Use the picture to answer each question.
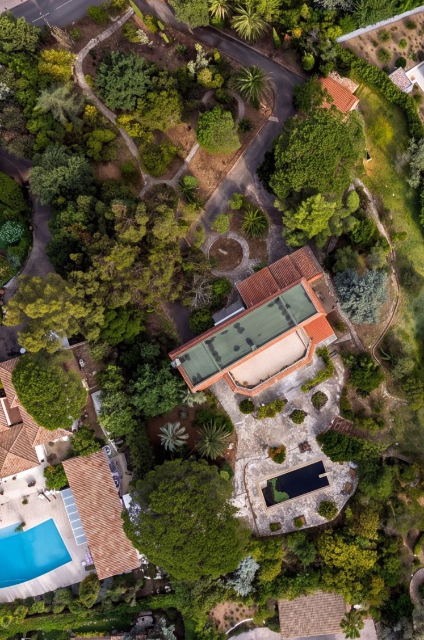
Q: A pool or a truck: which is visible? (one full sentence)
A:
The image shows a pool.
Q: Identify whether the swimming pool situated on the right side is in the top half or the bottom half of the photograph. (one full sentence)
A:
You can find the swimming pool situated on the right side in the bottom half.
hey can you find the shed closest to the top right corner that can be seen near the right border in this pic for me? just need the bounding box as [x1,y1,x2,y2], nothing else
[389,67,415,97]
